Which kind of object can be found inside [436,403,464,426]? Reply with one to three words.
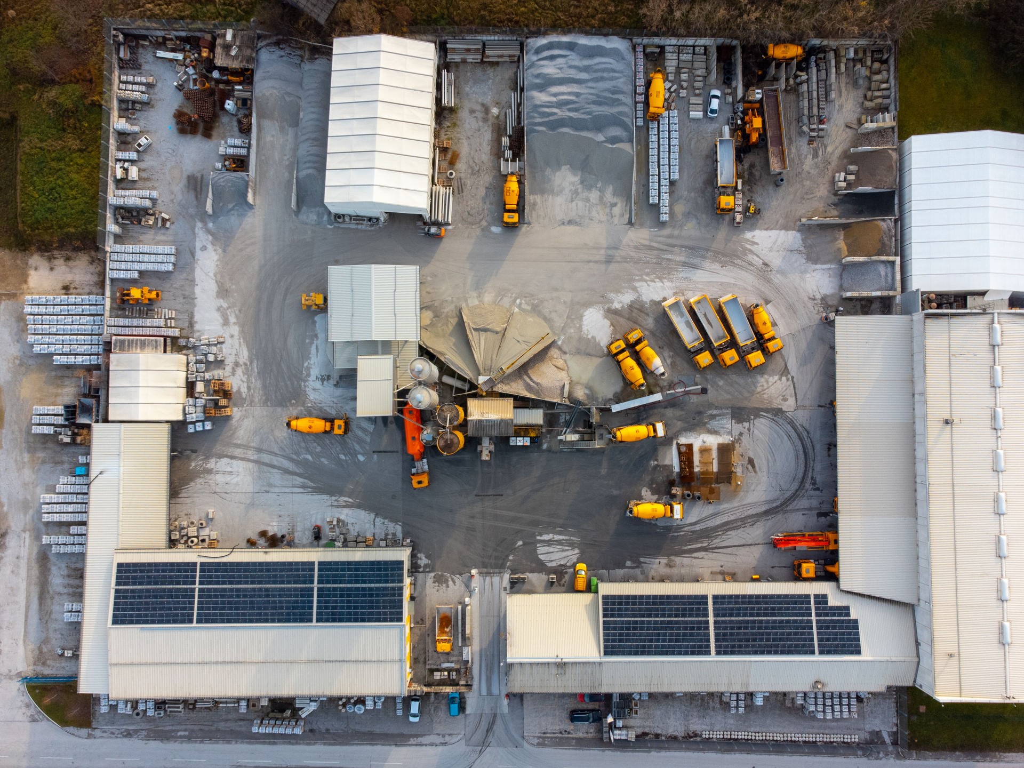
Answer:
silo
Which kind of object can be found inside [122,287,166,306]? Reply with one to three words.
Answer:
work vehicle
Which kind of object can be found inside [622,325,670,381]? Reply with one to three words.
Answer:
truck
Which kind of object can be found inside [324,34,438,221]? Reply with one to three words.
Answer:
building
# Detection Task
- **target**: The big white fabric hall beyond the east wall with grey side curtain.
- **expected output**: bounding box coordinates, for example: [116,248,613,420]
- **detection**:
[891,130,1024,300]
